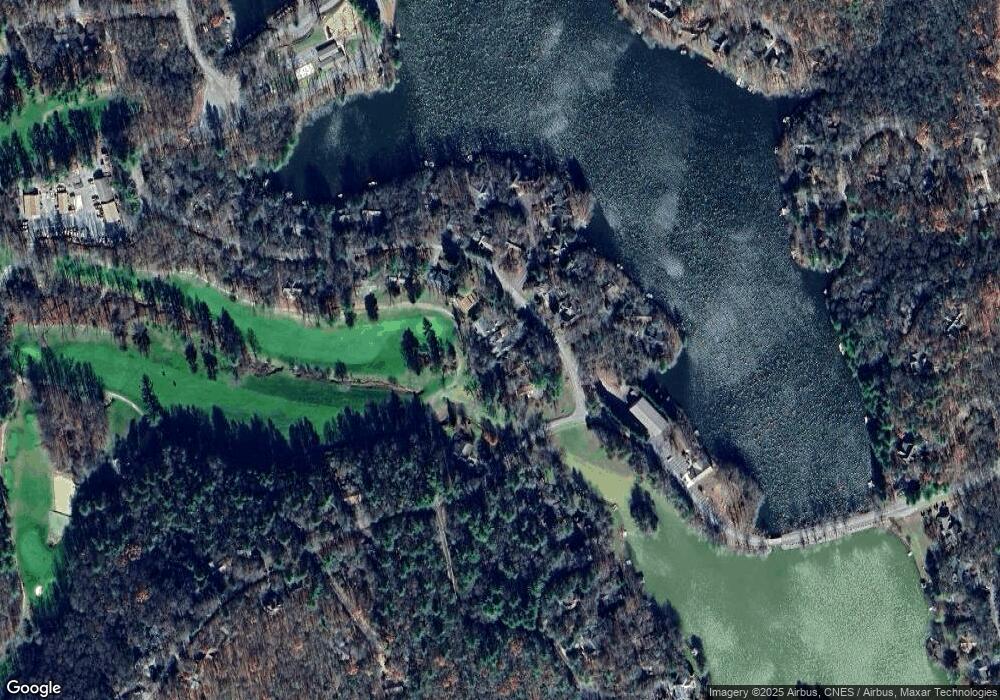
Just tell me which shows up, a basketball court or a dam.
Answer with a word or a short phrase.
dam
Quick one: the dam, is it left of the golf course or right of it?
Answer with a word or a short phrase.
on the right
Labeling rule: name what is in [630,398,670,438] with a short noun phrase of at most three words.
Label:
building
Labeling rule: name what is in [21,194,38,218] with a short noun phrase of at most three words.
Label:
shed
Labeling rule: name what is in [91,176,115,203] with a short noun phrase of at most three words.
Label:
building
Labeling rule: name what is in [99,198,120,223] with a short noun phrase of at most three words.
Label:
shed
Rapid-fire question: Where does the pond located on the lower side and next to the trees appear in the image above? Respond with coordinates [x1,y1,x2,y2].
[562,446,957,700]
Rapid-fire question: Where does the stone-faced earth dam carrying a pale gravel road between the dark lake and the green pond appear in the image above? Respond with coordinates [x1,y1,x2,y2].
[739,507,893,556]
